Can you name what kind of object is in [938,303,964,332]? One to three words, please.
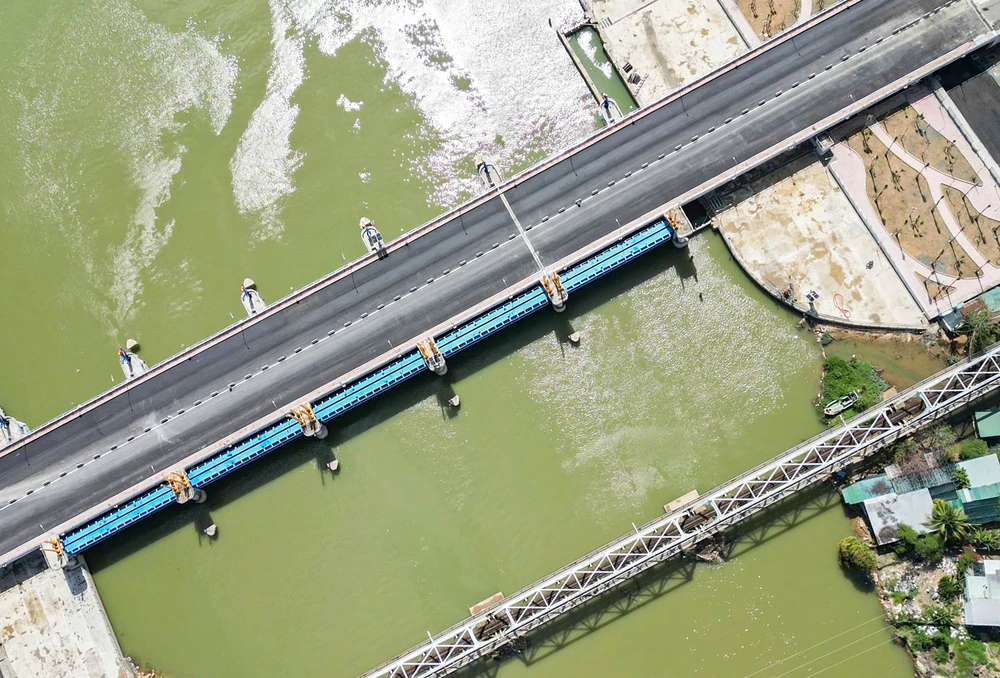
shed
